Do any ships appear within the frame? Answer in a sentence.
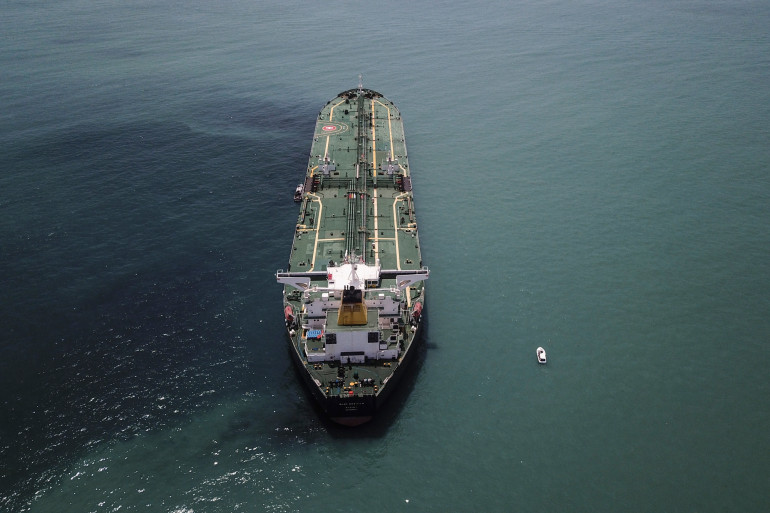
Yes, the picture does show a ship.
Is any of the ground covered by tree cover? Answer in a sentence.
No, the scene doesn't show any tree cover.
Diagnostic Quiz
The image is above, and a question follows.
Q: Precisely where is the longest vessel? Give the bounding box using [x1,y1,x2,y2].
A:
[272,77,433,425]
